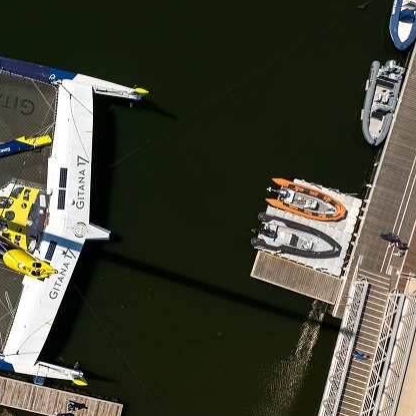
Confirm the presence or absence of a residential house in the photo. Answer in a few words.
No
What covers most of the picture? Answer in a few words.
water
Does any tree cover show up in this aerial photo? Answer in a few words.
No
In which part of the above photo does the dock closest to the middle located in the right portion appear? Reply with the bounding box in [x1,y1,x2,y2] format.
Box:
[249,250,342,305]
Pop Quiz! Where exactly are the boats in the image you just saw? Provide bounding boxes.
[0,57,148,384]
[261,178,351,222]
[389,0,416,53]
[359,66,406,149]
[246,213,345,258]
